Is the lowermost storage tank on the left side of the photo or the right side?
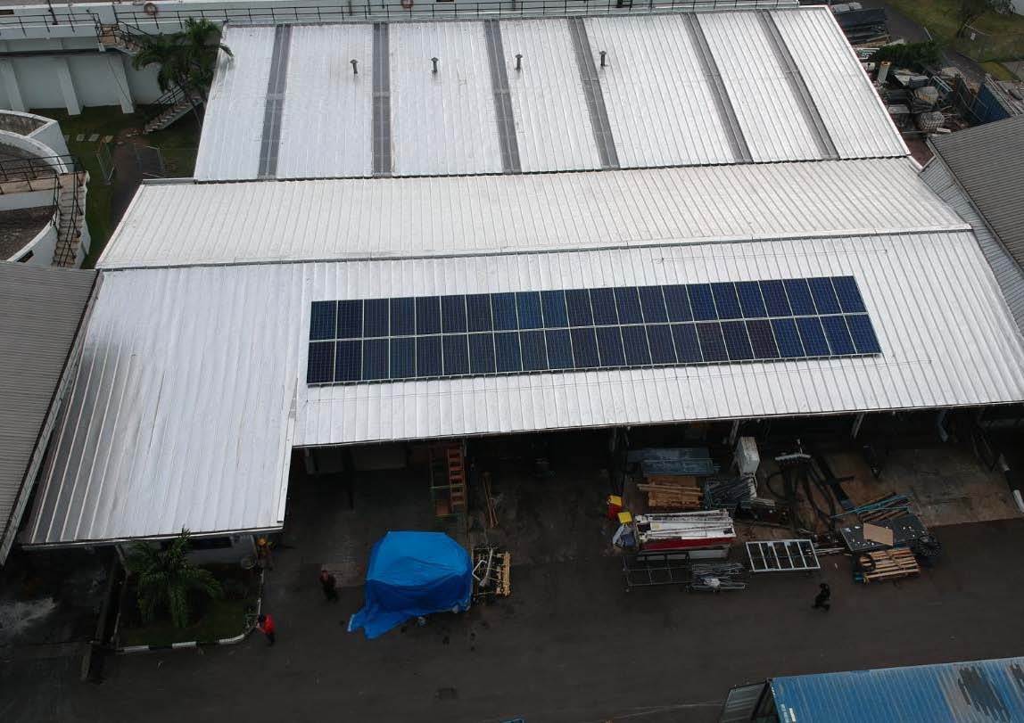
left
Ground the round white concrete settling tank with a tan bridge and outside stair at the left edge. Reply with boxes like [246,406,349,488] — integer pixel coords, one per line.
[0,108,101,271]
